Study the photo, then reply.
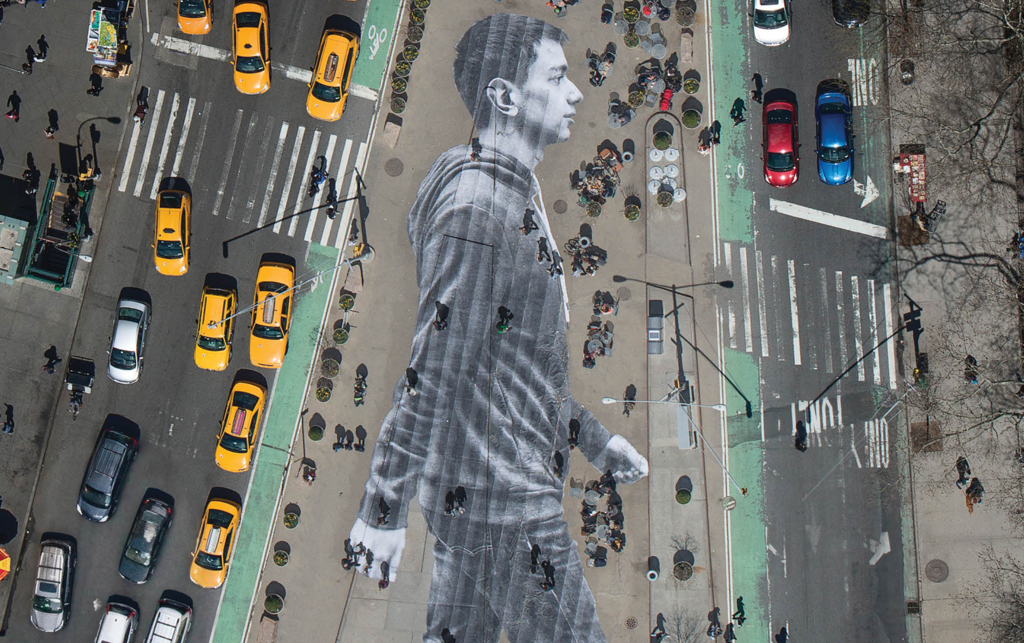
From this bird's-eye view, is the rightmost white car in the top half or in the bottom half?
top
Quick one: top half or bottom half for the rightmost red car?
top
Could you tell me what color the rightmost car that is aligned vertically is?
blue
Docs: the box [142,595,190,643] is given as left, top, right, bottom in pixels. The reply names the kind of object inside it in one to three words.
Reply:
car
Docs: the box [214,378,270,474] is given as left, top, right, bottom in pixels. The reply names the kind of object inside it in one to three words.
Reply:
car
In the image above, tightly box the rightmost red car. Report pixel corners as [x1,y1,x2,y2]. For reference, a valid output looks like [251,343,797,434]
[758,101,801,187]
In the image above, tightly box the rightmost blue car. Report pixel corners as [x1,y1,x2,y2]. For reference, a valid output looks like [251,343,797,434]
[812,92,856,185]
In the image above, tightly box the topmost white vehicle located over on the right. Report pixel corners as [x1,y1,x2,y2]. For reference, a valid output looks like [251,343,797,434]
[748,0,791,45]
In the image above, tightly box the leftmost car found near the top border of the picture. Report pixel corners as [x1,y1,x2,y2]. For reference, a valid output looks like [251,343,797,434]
[171,0,215,34]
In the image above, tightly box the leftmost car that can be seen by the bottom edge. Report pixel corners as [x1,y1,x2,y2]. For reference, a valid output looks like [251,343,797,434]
[26,540,79,633]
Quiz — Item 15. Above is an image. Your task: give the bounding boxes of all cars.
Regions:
[75,423,142,525]
[189,284,239,371]
[229,2,272,94]
[149,190,194,275]
[26,540,79,633]
[812,92,856,185]
[306,26,360,121]
[758,101,801,187]
[95,602,140,643]
[187,497,242,590]
[245,263,297,368]
[214,378,270,474]
[104,296,153,384]
[829,0,873,27]
[171,0,215,34]
[142,595,190,643]
[748,0,791,45]
[119,496,175,586]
